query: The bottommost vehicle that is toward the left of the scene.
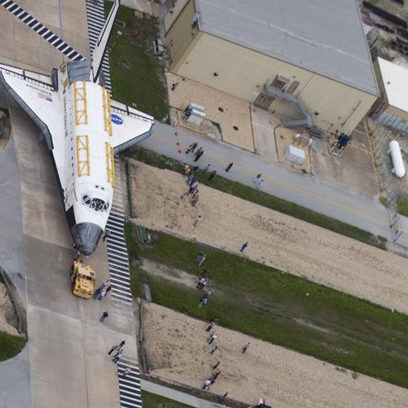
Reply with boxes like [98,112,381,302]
[70,257,96,304]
